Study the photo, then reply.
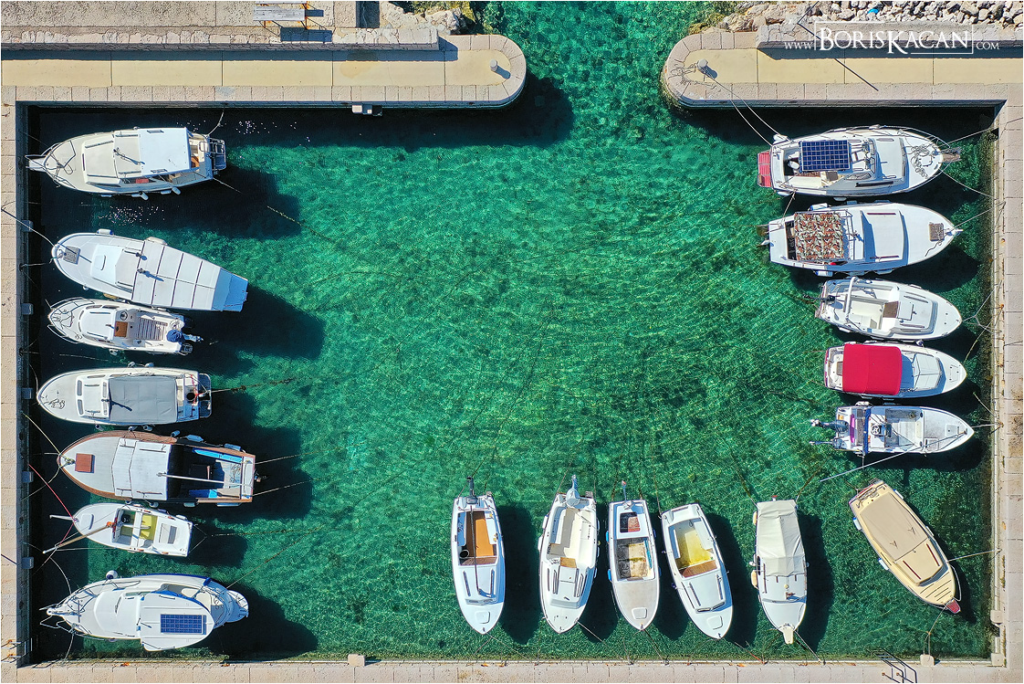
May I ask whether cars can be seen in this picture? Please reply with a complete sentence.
No, I find no car anywhere in the image.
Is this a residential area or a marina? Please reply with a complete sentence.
What you see here is a marina.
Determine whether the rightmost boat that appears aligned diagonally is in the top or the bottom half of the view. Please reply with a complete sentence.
It is in the bottom half that the rightmost boat that appears aligned diagonally appears.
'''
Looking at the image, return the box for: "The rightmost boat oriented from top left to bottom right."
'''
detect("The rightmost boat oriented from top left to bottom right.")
[847,480,962,613]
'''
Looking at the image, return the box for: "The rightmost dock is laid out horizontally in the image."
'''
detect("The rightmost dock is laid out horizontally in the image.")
[657,24,1024,112]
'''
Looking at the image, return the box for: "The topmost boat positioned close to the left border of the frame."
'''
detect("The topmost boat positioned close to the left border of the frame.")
[24,127,226,195]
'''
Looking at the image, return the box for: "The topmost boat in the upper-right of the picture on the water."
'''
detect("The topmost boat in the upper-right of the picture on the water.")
[756,126,959,200]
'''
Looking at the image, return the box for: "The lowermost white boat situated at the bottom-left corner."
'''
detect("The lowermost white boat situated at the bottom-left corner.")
[40,569,248,650]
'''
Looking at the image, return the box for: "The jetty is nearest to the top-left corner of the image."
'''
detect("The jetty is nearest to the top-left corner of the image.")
[0,26,529,112]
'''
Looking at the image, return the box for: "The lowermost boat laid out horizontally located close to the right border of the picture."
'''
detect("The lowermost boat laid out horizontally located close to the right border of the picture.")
[807,405,975,466]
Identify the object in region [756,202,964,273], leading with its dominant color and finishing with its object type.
white boat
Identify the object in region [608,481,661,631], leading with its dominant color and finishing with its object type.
white boat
